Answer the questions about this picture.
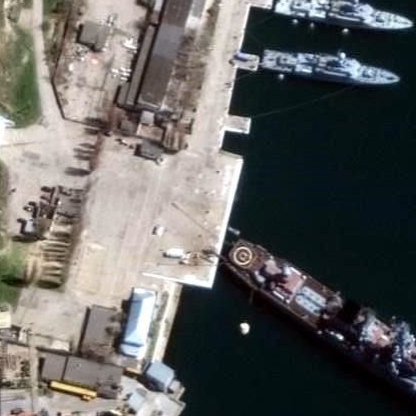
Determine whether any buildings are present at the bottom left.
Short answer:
Yes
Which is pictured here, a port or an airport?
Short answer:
port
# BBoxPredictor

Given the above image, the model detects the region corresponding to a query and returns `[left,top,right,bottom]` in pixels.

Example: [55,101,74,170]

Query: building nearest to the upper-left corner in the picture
[80,23,110,53]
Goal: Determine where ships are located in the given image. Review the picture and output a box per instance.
[273,0,413,29]
[260,51,400,84]
[224,239,416,394]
